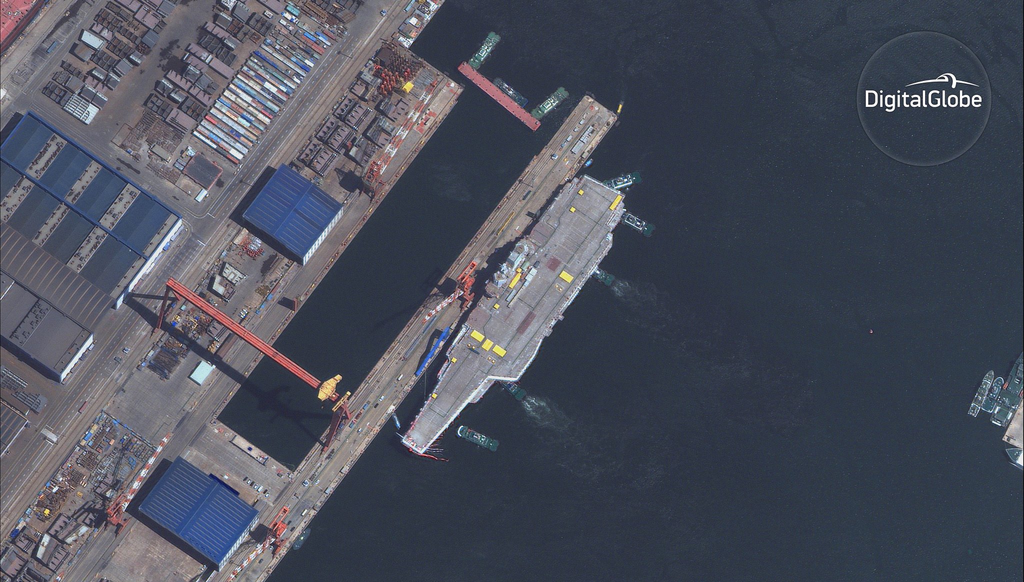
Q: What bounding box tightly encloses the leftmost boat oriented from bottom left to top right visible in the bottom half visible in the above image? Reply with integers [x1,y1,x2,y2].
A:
[292,527,311,551]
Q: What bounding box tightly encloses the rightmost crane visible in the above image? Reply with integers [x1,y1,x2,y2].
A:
[422,261,479,322]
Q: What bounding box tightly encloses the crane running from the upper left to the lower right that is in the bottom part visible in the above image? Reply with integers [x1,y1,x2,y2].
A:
[153,277,354,454]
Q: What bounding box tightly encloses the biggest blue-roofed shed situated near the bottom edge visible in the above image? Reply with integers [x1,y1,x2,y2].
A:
[138,457,259,570]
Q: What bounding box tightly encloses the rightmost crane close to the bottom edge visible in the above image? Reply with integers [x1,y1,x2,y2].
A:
[226,505,292,582]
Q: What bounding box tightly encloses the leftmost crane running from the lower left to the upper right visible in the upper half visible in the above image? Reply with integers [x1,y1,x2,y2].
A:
[358,79,438,205]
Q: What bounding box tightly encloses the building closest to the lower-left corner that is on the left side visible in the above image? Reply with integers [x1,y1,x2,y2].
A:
[0,402,28,461]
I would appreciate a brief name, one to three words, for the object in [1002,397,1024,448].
pier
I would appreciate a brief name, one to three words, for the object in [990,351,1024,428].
ship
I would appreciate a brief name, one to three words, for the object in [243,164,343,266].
shed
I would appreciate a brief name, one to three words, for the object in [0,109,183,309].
building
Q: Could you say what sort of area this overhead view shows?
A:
port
